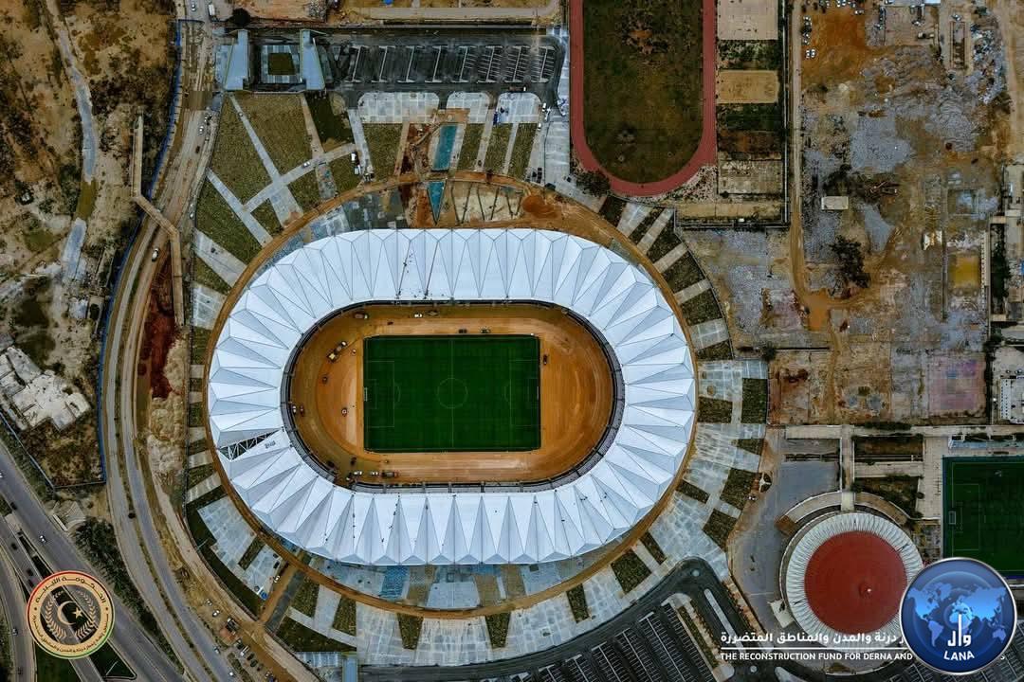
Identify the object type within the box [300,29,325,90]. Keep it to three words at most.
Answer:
building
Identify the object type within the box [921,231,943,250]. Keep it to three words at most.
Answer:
building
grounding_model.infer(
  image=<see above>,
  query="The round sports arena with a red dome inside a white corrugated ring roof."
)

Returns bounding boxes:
[760,503,925,656]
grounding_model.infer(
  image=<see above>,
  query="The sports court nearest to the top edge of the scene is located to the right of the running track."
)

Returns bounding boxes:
[718,0,778,39]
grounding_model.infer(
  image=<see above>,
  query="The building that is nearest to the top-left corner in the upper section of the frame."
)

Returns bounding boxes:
[224,29,251,90]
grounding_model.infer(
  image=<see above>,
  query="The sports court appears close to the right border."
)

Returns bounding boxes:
[929,354,985,410]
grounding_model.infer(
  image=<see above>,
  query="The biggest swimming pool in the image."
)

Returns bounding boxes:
[432,125,457,170]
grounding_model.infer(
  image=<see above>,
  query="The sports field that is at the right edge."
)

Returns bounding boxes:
[942,455,1024,579]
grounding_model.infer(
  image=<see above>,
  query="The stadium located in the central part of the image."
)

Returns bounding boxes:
[208,228,694,566]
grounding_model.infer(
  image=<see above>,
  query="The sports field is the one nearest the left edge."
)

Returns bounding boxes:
[363,335,541,453]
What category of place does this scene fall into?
sports ground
